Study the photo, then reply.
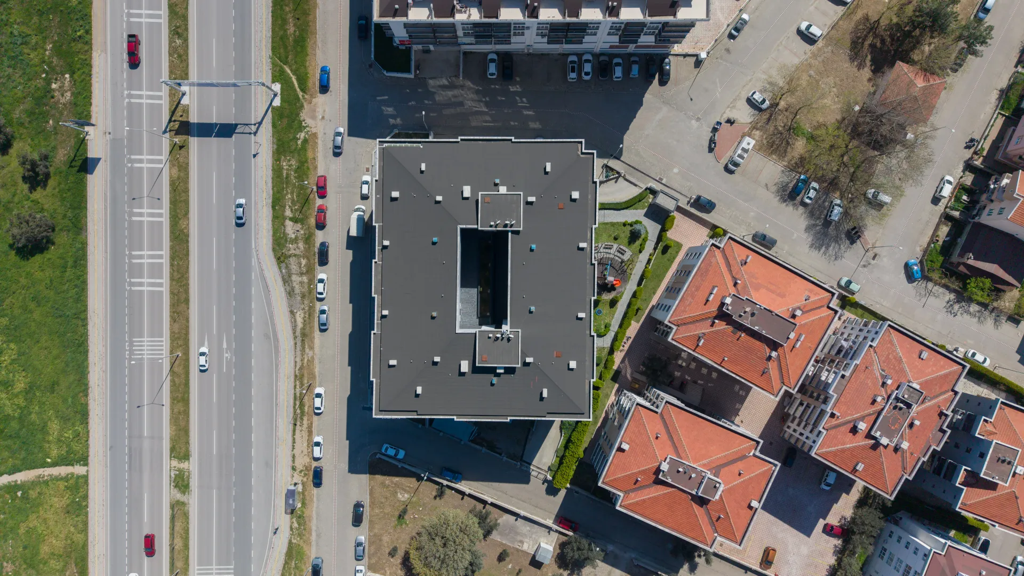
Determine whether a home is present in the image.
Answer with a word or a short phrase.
Yes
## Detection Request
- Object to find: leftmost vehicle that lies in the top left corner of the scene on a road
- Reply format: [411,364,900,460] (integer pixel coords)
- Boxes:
[126,36,141,66]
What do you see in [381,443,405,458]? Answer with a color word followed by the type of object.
blue car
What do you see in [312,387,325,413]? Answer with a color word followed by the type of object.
white vehicle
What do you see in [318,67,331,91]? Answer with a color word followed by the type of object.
blue vehicle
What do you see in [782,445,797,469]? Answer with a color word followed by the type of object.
black car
